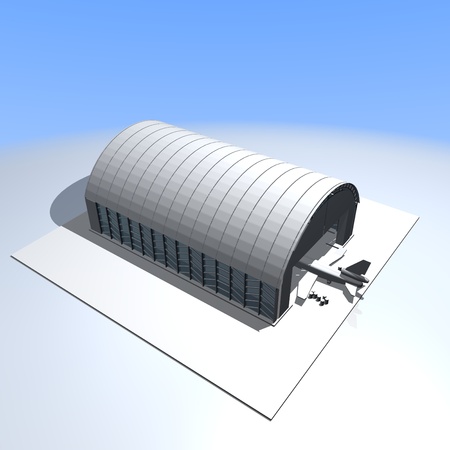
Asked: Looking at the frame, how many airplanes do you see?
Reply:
one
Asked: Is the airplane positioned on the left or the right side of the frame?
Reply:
right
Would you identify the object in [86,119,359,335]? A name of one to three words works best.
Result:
hangar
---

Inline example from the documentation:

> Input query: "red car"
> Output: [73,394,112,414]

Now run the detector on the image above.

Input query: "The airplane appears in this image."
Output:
[300,247,371,304]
